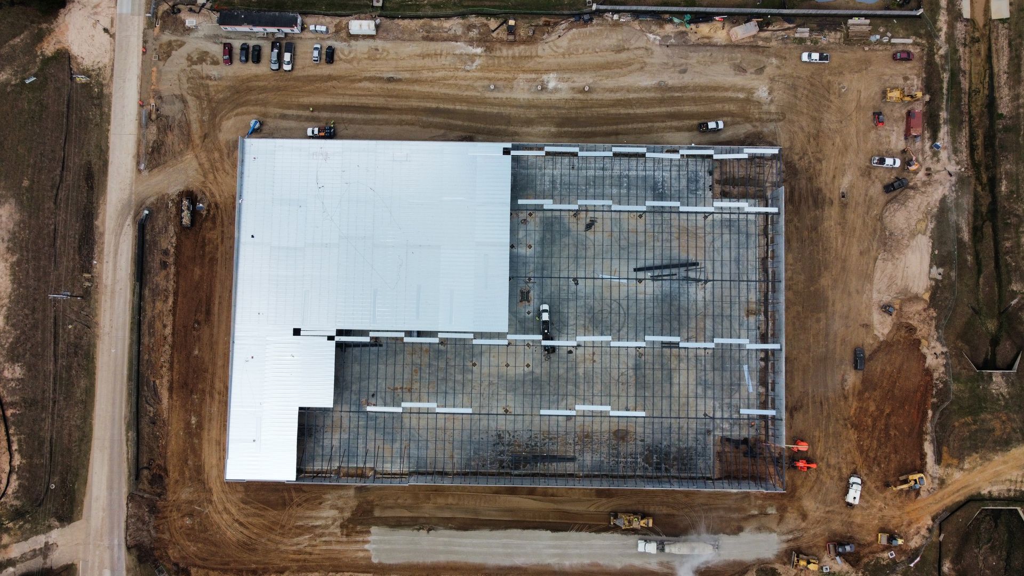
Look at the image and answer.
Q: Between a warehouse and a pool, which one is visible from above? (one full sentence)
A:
Looking from above, you can make out a warehouse.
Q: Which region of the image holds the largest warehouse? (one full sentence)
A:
You can find the largest warehouse in the center area of the picture.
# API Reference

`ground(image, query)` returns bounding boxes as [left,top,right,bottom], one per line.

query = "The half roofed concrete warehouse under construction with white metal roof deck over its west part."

[226,135,785,492]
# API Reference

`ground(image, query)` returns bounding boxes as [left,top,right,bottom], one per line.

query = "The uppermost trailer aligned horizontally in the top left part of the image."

[219,10,303,36]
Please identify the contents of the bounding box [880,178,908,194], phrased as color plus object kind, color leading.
black vehicle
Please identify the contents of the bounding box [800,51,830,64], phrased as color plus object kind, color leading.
white vehicle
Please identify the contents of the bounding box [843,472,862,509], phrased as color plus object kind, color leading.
white vehicle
